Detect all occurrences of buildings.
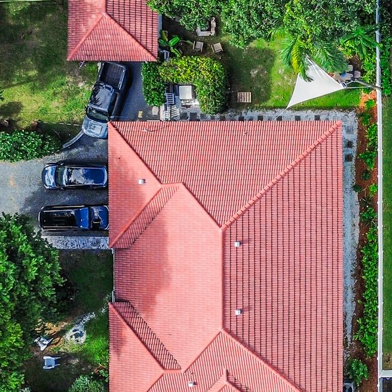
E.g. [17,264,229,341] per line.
[66,0,175,63]
[105,120,343,392]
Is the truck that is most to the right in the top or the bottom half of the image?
top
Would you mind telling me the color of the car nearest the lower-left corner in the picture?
black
